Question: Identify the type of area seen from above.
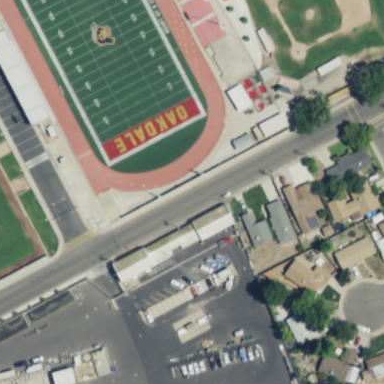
sports ground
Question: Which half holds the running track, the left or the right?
left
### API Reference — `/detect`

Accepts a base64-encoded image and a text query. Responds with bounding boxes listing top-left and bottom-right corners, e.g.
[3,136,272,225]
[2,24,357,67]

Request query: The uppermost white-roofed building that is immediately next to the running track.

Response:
[228,83,254,112]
